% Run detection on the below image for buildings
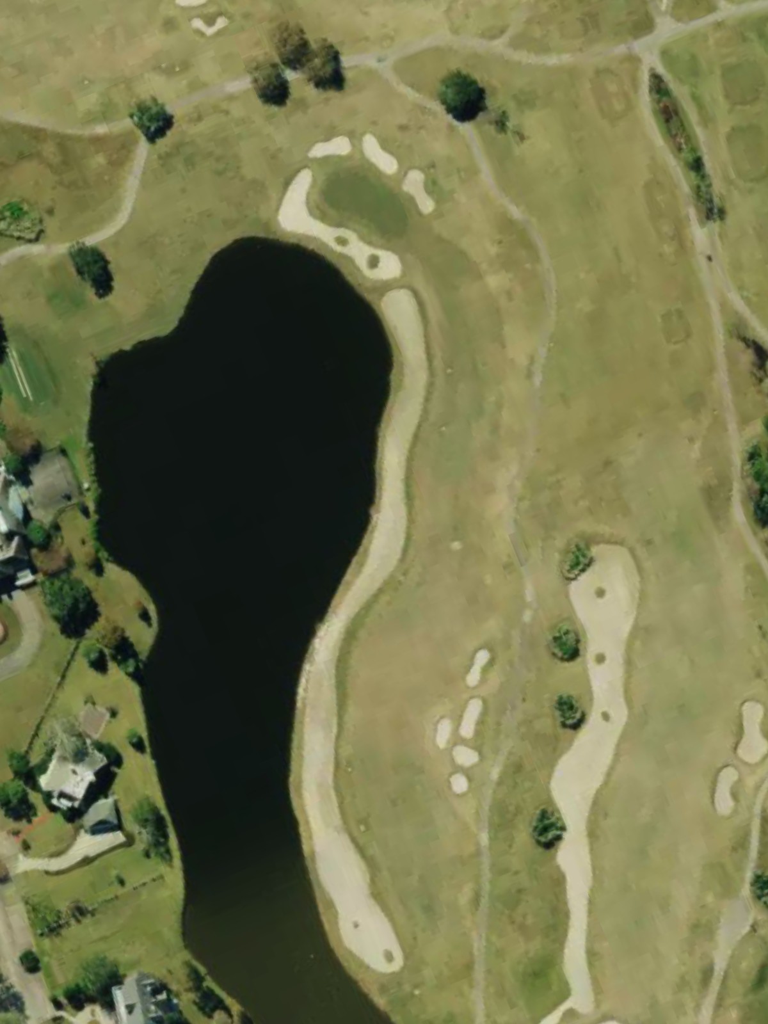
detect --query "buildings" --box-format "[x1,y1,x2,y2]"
[0,456,29,560]
[82,798,120,837]
[112,972,171,1024]
[36,740,113,813]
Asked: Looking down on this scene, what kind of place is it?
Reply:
golf course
